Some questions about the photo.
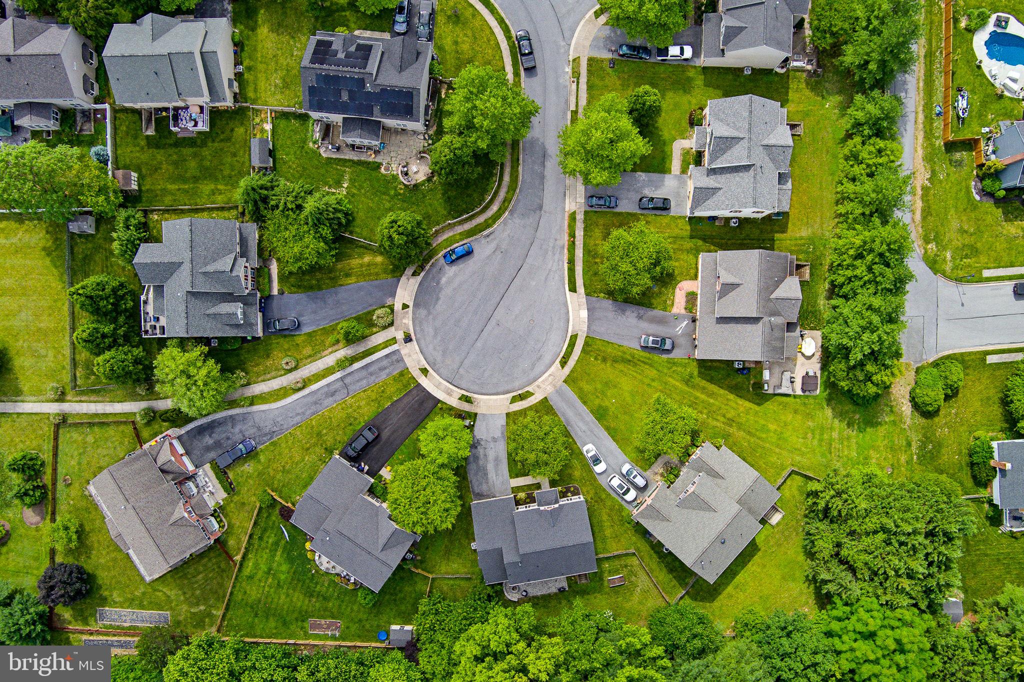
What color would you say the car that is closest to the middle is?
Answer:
blue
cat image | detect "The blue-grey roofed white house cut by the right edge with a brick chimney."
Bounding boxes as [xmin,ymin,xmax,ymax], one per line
[986,440,1024,510]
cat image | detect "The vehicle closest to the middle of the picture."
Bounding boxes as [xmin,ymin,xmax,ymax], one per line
[442,242,475,265]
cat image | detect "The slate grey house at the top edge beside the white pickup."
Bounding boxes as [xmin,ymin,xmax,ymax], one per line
[700,0,812,64]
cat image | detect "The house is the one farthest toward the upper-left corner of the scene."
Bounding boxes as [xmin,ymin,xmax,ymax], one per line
[0,15,102,128]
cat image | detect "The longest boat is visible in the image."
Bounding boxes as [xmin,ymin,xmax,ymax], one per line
[953,93,969,124]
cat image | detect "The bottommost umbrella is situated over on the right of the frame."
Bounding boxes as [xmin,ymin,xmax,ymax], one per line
[799,337,817,356]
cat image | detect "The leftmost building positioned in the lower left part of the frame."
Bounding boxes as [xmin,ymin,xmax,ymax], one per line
[90,434,226,583]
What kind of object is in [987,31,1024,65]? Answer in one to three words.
swimming pool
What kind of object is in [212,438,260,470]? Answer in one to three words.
truck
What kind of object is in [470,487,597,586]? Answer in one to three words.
house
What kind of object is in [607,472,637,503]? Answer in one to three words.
car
